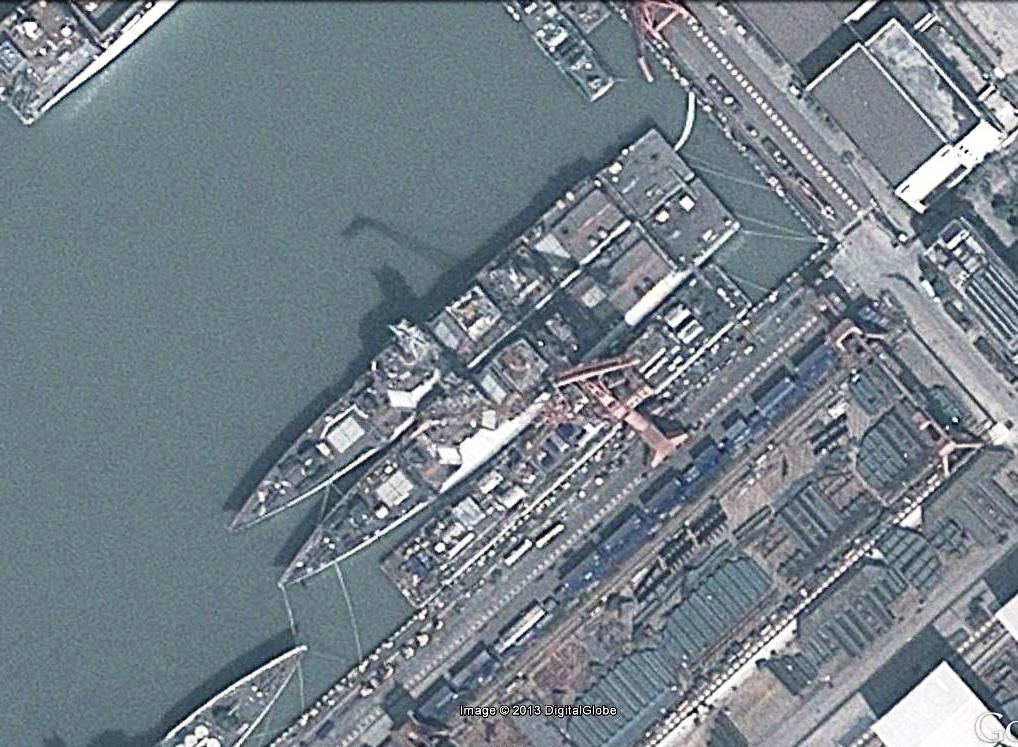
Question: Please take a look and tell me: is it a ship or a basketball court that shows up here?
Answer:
ship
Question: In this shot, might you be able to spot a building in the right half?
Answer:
Yes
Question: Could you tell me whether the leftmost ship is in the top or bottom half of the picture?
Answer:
top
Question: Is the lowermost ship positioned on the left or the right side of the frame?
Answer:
left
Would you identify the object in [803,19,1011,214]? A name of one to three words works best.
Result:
building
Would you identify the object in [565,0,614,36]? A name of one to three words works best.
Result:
ship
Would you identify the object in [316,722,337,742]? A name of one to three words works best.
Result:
vehicle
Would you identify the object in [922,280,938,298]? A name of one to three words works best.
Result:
vehicle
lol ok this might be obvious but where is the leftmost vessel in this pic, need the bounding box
[0,0,197,122]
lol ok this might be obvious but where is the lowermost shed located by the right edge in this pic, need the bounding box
[871,662,1018,747]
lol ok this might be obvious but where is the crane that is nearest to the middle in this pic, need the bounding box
[410,352,694,471]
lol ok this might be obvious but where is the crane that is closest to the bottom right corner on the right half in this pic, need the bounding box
[835,324,990,473]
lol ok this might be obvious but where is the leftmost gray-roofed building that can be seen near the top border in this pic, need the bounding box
[743,0,899,76]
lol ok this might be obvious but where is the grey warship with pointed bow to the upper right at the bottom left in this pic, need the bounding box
[156,647,306,747]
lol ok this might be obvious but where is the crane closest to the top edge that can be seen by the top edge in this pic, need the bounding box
[621,0,688,82]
